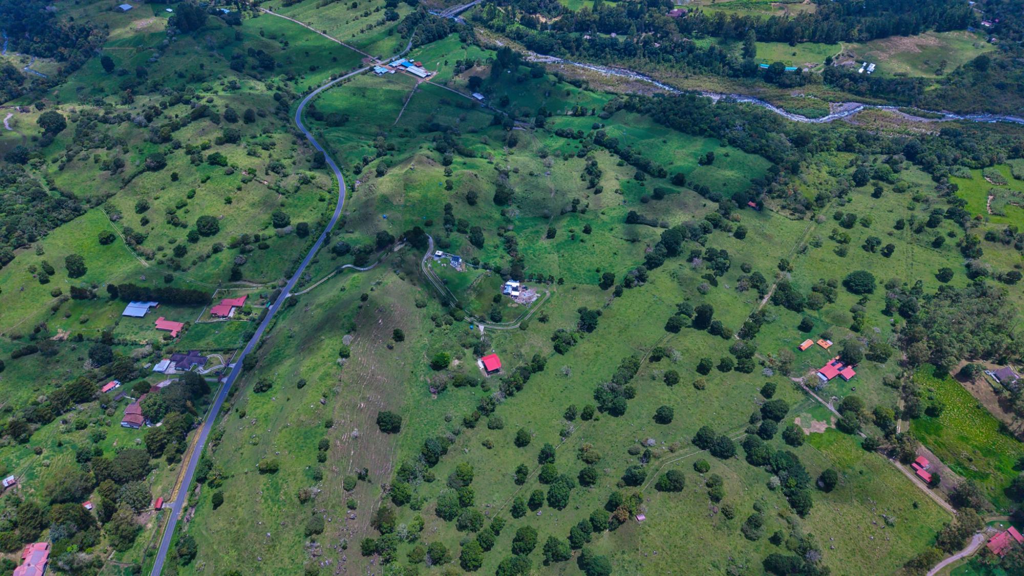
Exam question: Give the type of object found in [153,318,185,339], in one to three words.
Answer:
house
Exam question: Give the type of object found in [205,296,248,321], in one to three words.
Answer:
house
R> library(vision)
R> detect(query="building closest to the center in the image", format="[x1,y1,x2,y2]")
[500,280,522,302]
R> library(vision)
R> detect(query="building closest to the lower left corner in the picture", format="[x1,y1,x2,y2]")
[20,543,55,576]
